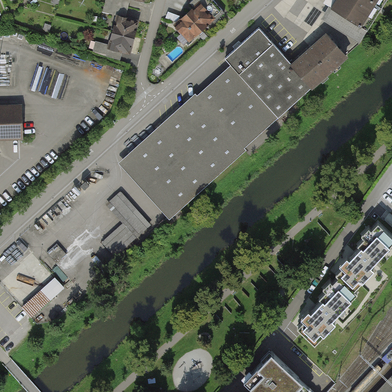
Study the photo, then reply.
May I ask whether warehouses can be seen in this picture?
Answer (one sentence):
Yes, there is a warehouse in the image.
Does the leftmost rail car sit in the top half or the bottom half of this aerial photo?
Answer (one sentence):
You can find the leftmost rail car in the bottom half.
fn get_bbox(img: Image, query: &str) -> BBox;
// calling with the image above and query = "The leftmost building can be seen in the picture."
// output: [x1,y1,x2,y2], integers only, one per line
[0,104,24,140]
